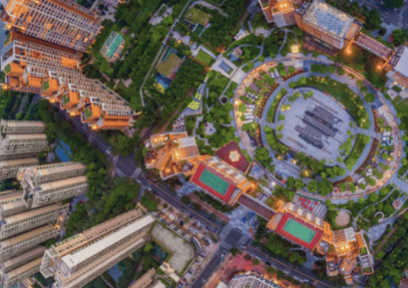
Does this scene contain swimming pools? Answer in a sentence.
Yes, the frame does contain a swimming pool.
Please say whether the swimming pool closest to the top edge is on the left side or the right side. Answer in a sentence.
The swimming pool closest to the top edge is on the left side of the image.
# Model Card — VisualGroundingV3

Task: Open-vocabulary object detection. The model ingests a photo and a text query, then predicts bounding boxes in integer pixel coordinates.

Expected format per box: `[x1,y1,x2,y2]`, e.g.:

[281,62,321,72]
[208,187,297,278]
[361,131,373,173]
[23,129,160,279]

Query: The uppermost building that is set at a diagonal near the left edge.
[0,29,135,127]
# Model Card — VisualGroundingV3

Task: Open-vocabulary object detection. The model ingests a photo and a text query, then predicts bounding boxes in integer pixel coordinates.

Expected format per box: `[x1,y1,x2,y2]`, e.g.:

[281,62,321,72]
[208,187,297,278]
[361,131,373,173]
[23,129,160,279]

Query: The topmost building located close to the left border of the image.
[1,0,105,51]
